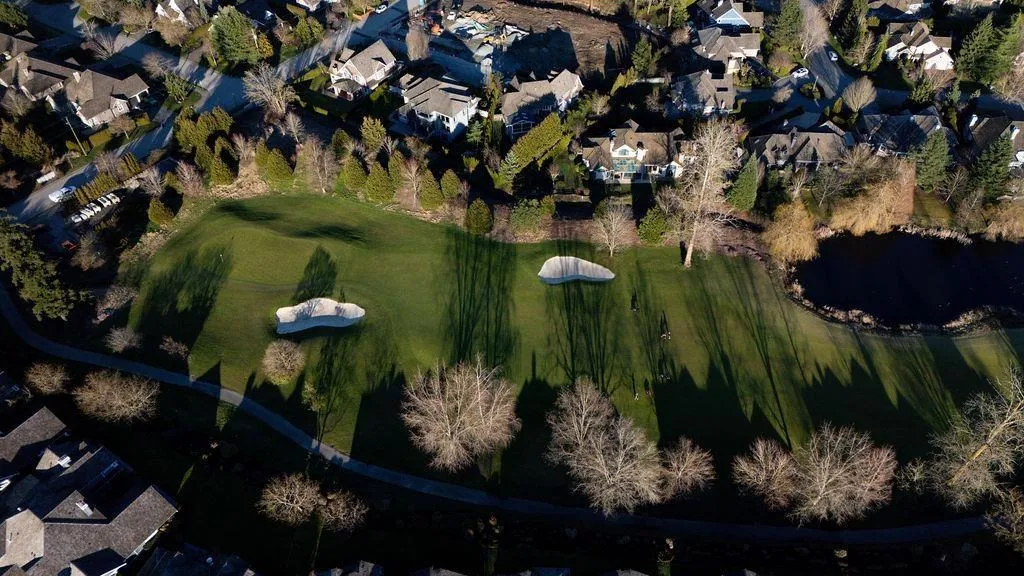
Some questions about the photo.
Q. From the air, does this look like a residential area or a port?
residential area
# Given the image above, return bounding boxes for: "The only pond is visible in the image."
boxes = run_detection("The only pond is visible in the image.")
[798,233,1024,329]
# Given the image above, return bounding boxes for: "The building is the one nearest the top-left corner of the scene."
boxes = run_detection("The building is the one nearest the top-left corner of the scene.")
[0,28,61,77]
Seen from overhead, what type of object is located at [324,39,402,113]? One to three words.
house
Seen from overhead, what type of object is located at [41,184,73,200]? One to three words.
vehicle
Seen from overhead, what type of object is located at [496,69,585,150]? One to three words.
house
